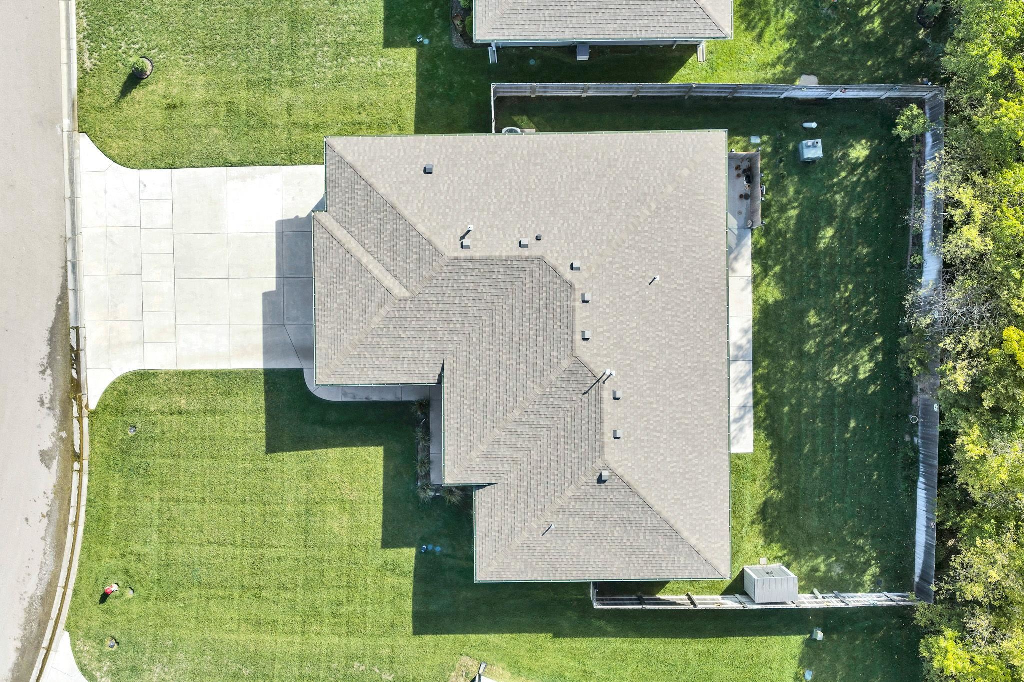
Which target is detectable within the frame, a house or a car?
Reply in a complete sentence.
It is a house that can be seen here.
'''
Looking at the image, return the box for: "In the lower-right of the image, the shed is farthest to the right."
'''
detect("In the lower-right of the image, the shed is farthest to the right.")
[744,560,799,602]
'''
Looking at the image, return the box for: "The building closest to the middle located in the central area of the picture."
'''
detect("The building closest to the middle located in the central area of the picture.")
[311,130,731,584]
